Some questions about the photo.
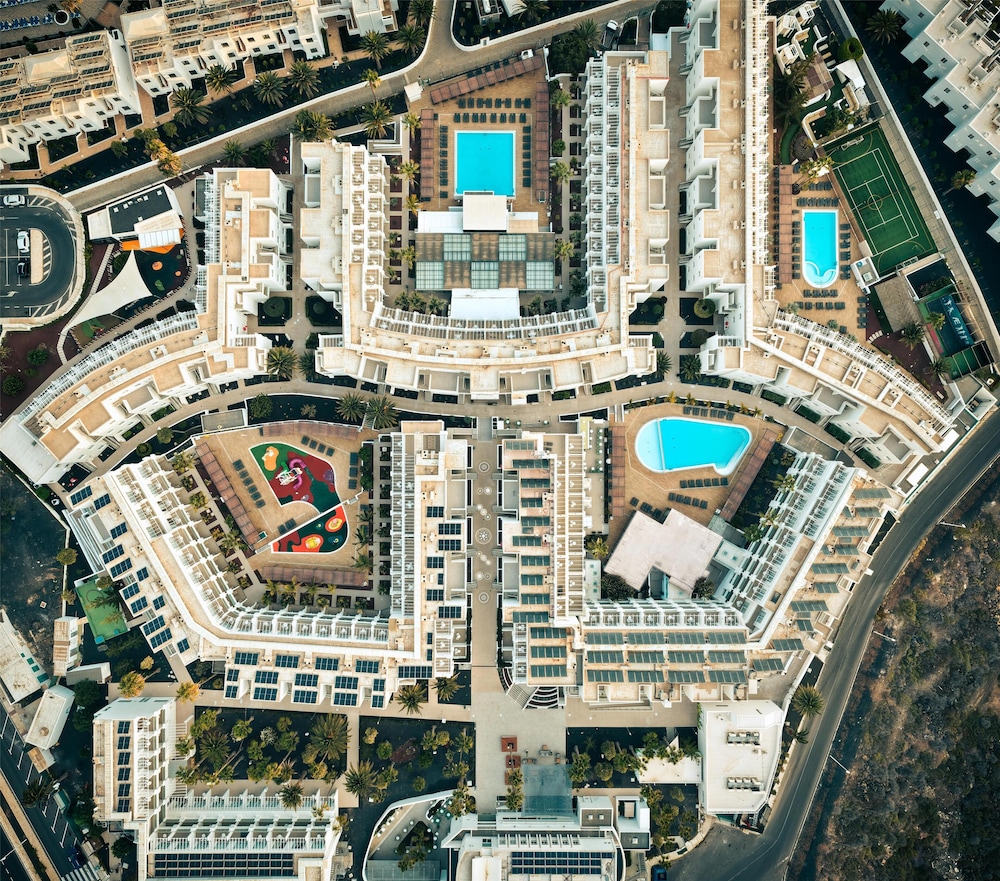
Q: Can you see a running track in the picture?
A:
No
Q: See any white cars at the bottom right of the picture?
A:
No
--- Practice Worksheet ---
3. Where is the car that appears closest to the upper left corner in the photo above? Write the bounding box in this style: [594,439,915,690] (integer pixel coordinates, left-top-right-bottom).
[1,192,23,205]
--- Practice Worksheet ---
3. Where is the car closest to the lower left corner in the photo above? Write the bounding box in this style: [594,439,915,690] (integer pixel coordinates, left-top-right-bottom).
[65,847,85,872]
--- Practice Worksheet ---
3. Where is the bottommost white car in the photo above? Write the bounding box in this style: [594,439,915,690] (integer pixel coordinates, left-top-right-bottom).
[15,230,28,252]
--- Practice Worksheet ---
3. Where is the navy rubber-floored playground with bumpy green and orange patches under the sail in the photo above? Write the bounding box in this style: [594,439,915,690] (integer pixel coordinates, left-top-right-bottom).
[69,234,187,347]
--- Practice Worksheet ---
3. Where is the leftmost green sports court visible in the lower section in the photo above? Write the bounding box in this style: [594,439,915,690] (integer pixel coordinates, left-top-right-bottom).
[69,569,130,643]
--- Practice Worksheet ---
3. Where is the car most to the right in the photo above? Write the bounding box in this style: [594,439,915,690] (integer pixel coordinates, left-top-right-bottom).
[739,814,757,832]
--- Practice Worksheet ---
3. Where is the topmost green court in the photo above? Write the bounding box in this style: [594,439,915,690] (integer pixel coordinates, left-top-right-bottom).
[820,122,938,277]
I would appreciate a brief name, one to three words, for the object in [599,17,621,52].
truck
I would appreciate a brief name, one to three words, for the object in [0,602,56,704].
building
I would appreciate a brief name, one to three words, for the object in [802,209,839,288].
swimming pool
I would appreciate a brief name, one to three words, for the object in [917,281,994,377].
sports court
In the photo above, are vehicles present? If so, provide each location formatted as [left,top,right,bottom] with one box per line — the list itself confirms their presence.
[599,17,621,52]
[739,814,757,832]
[653,864,666,881]
[1,192,23,205]
[15,230,28,252]
[15,254,28,276]
[65,847,85,872]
